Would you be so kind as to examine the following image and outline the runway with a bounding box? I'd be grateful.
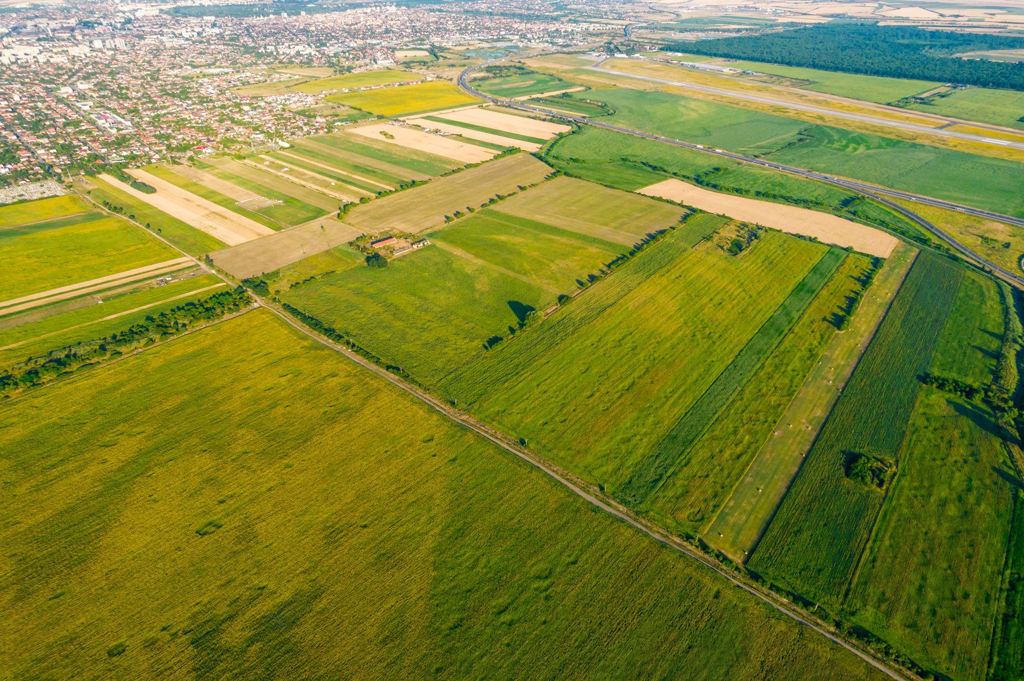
[578,66,1024,149]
